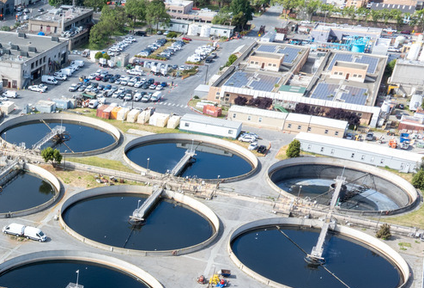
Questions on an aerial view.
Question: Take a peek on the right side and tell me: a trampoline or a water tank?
water tank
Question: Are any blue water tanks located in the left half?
Yes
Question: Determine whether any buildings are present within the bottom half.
No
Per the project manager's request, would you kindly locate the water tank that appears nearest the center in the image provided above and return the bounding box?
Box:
[123,134,259,186]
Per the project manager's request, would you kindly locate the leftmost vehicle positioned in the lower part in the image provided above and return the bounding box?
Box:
[4,222,27,237]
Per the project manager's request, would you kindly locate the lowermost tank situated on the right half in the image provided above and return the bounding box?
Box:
[227,211,411,288]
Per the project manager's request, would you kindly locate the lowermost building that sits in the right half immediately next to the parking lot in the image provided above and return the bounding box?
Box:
[209,40,388,125]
